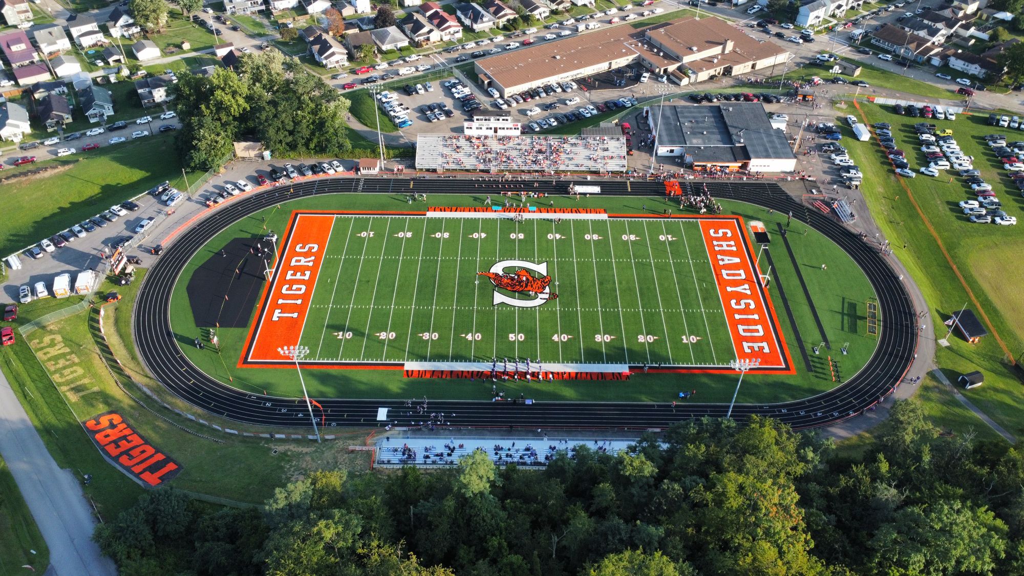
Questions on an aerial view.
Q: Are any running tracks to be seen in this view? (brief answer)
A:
Yes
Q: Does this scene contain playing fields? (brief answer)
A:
Yes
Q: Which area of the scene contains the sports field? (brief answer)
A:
center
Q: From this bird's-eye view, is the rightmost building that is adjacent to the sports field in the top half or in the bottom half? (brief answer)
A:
top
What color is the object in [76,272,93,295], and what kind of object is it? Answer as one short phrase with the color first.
white vehicle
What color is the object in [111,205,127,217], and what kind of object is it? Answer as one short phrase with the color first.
white vehicle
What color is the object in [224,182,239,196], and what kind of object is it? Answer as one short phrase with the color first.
white car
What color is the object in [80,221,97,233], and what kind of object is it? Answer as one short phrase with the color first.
blue vehicle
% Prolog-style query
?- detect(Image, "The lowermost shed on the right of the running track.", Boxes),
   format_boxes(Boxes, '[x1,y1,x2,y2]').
[955,370,988,394]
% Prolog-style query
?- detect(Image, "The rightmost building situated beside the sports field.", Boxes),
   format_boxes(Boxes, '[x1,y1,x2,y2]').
[649,101,797,172]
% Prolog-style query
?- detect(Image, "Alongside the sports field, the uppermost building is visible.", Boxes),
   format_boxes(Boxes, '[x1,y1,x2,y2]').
[473,11,791,97]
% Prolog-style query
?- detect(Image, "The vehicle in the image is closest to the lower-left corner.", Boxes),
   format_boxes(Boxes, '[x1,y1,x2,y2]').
[1,326,16,347]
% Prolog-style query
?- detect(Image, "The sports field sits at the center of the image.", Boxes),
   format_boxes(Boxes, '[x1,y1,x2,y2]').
[294,215,738,366]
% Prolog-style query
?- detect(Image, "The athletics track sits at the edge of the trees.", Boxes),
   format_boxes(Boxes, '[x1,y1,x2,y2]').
[138,177,913,434]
